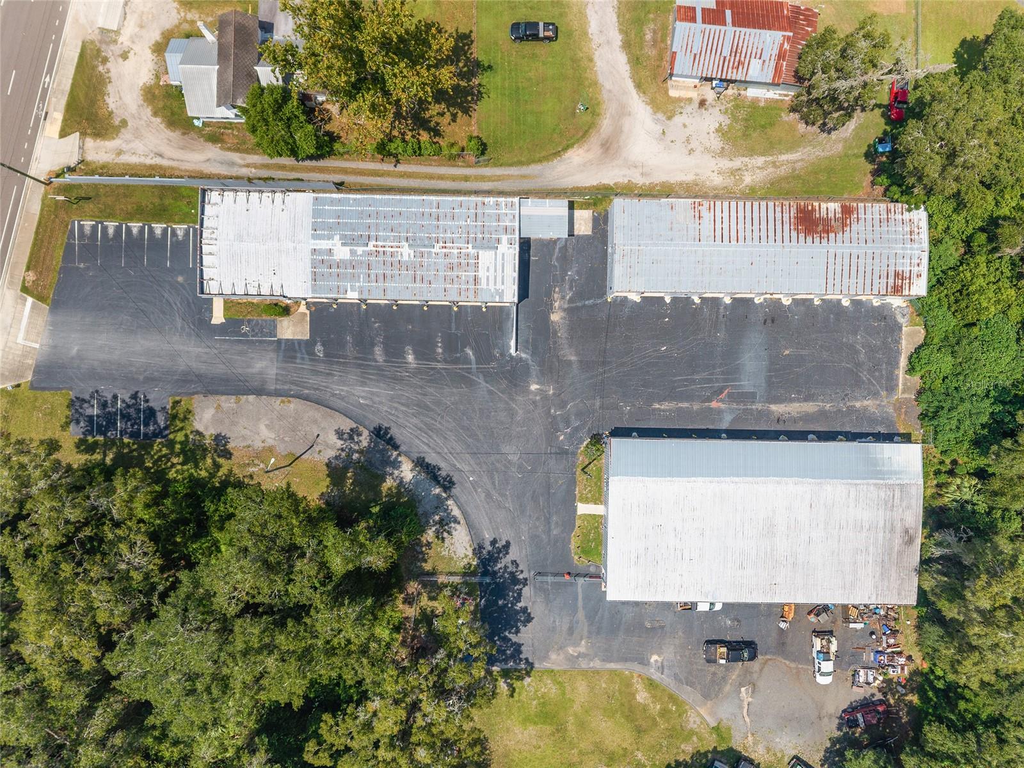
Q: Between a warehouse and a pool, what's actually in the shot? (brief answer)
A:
warehouse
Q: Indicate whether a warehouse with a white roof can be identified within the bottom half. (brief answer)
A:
Yes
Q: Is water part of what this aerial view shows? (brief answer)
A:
No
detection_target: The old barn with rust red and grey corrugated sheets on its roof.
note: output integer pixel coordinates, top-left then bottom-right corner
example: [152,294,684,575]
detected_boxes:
[666,0,820,96]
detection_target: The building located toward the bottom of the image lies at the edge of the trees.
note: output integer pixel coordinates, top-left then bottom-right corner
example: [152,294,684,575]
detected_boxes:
[602,437,926,606]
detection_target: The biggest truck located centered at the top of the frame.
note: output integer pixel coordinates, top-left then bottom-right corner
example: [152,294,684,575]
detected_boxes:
[509,20,558,45]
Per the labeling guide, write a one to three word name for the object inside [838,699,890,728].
truck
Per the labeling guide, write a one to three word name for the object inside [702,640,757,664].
truck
